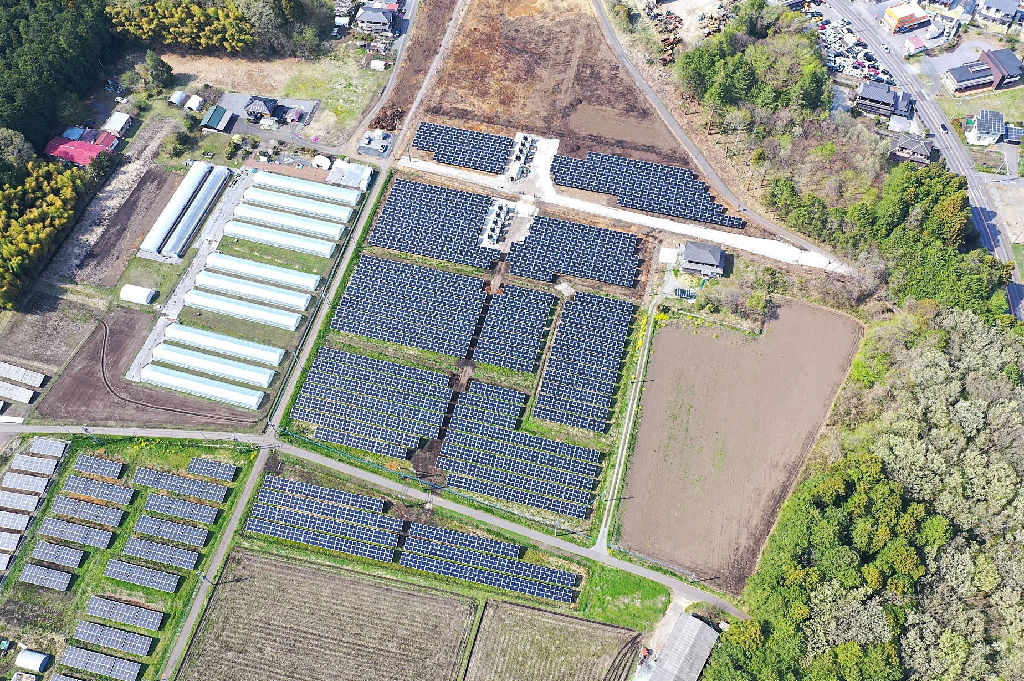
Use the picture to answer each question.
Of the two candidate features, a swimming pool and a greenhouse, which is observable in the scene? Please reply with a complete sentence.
Of the two, only a greenhouse appears.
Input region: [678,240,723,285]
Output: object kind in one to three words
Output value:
house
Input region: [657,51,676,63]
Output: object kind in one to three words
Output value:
vehicle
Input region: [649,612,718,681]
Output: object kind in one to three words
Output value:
barn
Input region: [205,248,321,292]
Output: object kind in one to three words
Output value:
greenhouse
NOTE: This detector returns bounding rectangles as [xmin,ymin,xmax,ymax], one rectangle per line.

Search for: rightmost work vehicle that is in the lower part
[638,642,650,664]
